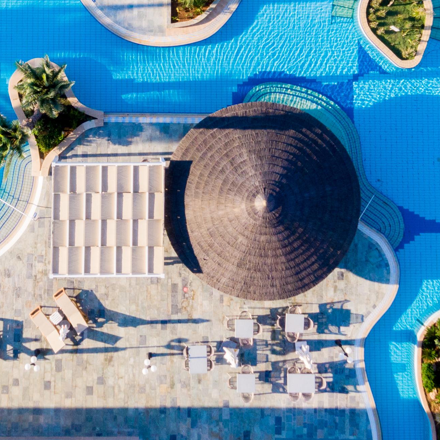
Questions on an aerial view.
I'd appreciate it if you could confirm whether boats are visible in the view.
No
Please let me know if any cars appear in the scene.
No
